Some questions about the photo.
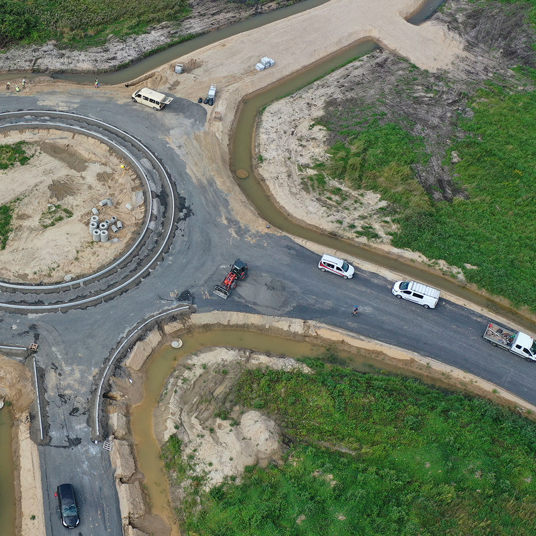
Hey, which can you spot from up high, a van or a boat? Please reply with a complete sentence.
I can see a van in this picture.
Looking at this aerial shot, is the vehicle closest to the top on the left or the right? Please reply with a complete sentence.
It is on the left.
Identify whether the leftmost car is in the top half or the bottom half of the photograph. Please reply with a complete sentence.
The leftmost car sits in the bottom half of the picture.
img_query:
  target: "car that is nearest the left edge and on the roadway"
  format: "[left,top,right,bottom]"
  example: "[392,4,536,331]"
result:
[56,484,81,528]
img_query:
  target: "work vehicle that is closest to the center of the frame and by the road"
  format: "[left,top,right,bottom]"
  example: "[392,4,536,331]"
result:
[213,265,241,298]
